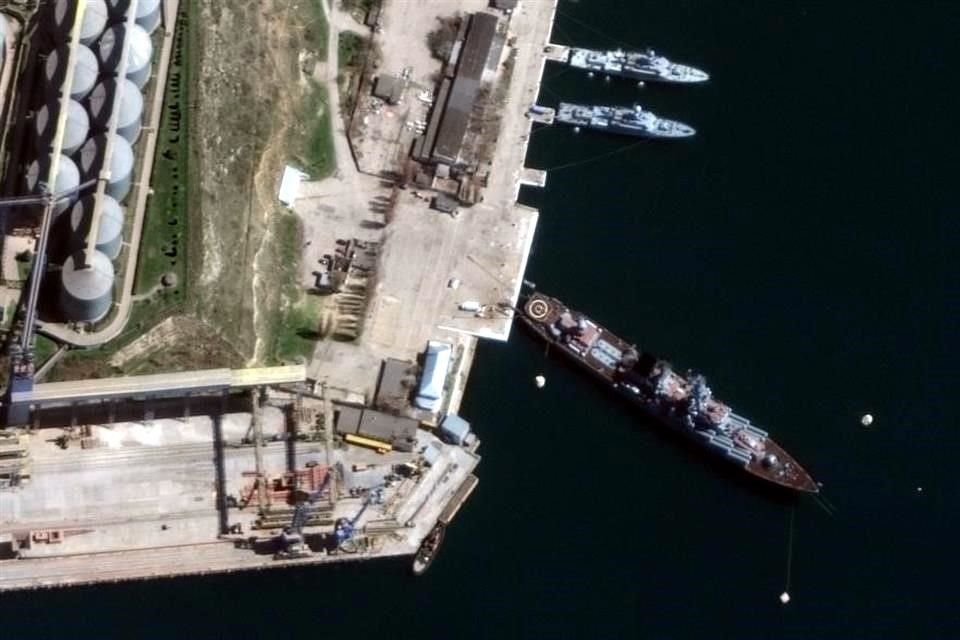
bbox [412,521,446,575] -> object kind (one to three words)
boat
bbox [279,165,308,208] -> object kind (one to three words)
building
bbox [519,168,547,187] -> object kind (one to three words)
pier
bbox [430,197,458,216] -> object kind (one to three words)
shed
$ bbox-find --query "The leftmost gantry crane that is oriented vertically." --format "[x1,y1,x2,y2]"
[248,390,278,537]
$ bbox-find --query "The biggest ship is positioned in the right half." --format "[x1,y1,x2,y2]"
[519,292,818,491]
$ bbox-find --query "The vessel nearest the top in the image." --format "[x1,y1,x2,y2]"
[568,50,709,82]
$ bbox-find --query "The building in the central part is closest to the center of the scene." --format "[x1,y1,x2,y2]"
[416,341,452,402]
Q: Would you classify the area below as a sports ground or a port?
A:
port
